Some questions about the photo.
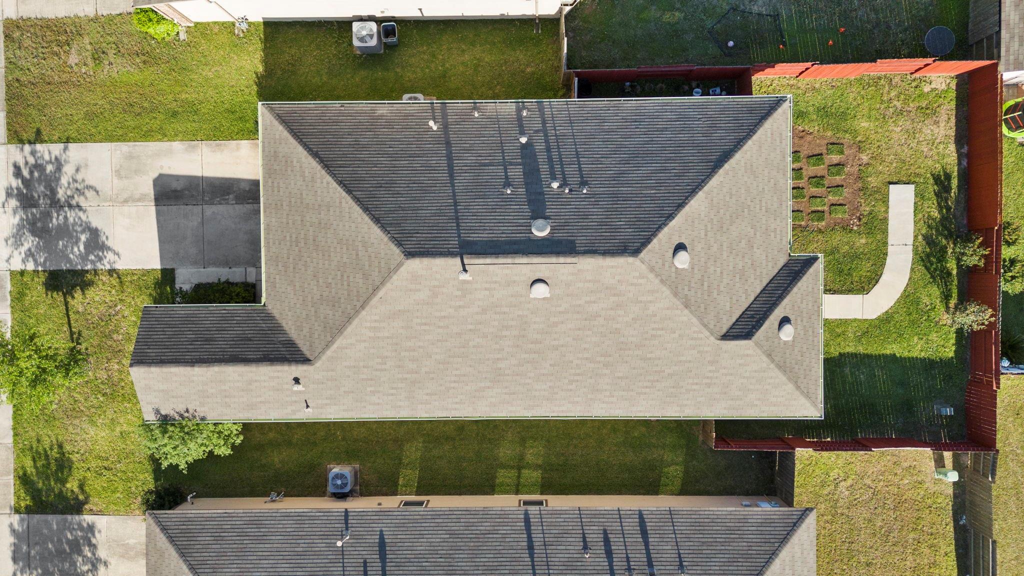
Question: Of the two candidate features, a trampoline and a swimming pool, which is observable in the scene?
trampoline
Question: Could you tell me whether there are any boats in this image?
No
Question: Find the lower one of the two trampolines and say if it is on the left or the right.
right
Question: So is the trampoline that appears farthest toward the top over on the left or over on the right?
right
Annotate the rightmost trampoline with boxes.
[1002,97,1024,141]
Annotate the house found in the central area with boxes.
[129,93,825,423]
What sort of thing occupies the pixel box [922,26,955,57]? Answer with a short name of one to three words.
trampoline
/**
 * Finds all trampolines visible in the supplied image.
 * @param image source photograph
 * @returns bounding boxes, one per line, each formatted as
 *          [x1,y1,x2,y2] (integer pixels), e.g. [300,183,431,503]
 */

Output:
[1002,97,1024,141]
[922,26,955,57]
